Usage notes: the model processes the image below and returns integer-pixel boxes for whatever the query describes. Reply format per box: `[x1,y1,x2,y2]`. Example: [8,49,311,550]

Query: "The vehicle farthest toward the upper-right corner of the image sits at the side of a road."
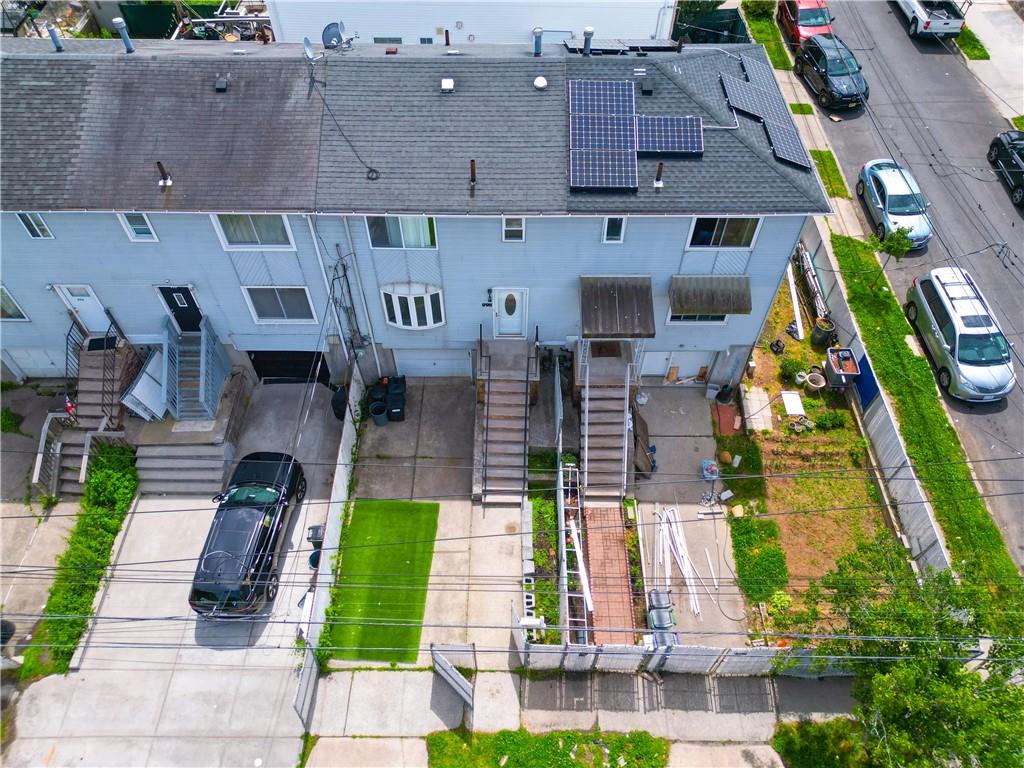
[885,0,961,36]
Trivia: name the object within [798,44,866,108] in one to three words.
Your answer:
car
